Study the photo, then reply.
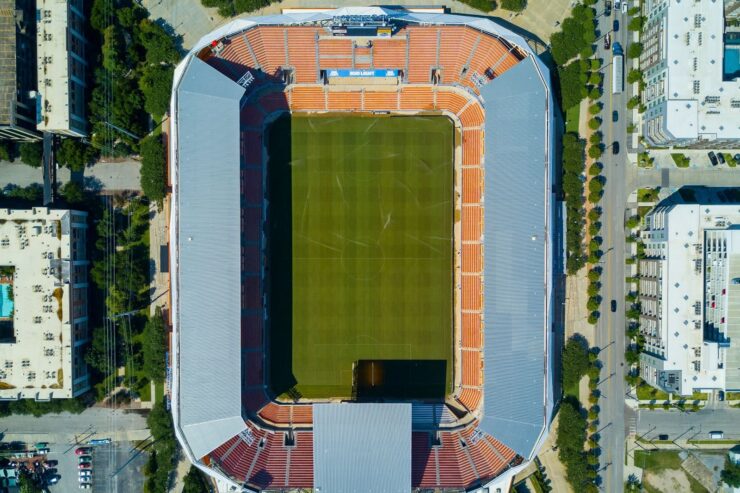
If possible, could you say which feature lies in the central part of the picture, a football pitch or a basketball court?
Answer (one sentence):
What appears in the central part of the picture is a football pitch.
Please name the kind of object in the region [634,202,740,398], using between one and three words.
building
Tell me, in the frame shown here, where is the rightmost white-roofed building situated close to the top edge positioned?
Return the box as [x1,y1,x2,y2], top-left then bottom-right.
[638,0,740,151]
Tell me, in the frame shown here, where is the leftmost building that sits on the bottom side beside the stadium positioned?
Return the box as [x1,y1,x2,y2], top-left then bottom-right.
[0,207,94,400]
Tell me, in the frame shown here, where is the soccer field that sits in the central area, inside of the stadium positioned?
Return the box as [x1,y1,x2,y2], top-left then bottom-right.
[269,116,453,400]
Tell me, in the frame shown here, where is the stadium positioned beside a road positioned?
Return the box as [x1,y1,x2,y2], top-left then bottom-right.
[170,7,554,493]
